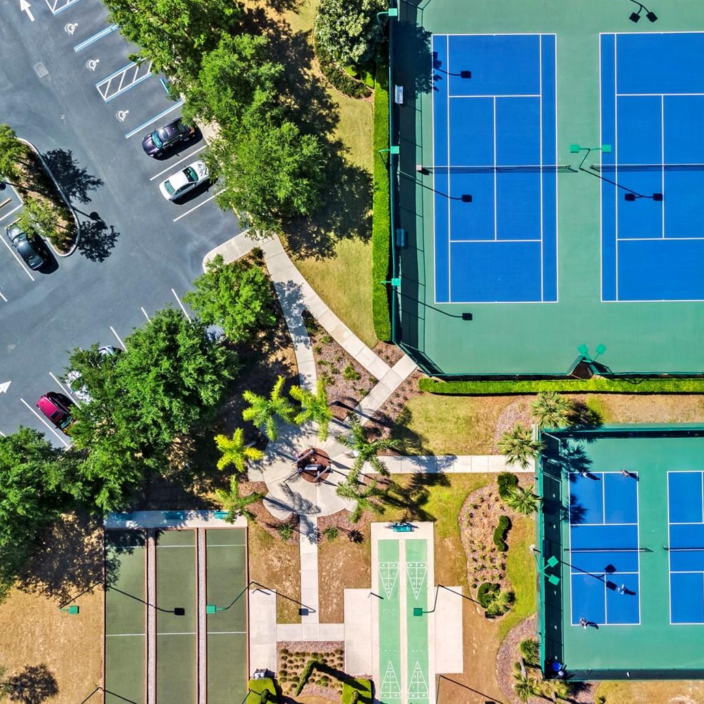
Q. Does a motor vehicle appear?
Yes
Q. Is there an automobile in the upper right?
No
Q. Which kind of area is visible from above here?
sports ground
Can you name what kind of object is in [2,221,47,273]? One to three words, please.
car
